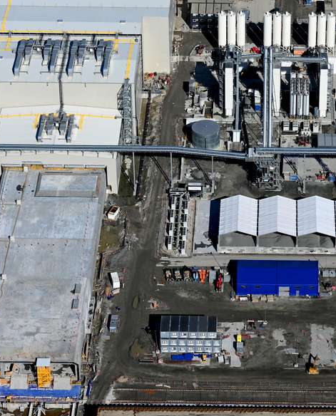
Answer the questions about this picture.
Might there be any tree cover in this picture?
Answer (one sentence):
No, tree cover can't be seen anywhere here.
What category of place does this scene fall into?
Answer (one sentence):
The picture captures an industrial area.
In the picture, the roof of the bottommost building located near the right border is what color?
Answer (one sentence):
The color of the roof on the bottommost building located near the right border is blue.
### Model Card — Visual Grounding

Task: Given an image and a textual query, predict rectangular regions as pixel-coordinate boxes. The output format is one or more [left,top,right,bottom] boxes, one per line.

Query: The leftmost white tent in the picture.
[220,195,258,244]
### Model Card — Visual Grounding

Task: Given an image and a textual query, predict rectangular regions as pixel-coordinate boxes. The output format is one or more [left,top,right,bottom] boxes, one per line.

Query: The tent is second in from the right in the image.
[259,195,296,245]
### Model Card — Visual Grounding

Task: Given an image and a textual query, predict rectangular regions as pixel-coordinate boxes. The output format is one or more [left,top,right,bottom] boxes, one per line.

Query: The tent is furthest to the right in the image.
[298,195,335,245]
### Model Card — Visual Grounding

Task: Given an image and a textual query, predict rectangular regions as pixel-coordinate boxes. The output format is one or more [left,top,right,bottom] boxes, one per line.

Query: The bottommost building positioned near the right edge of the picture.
[237,261,320,297]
